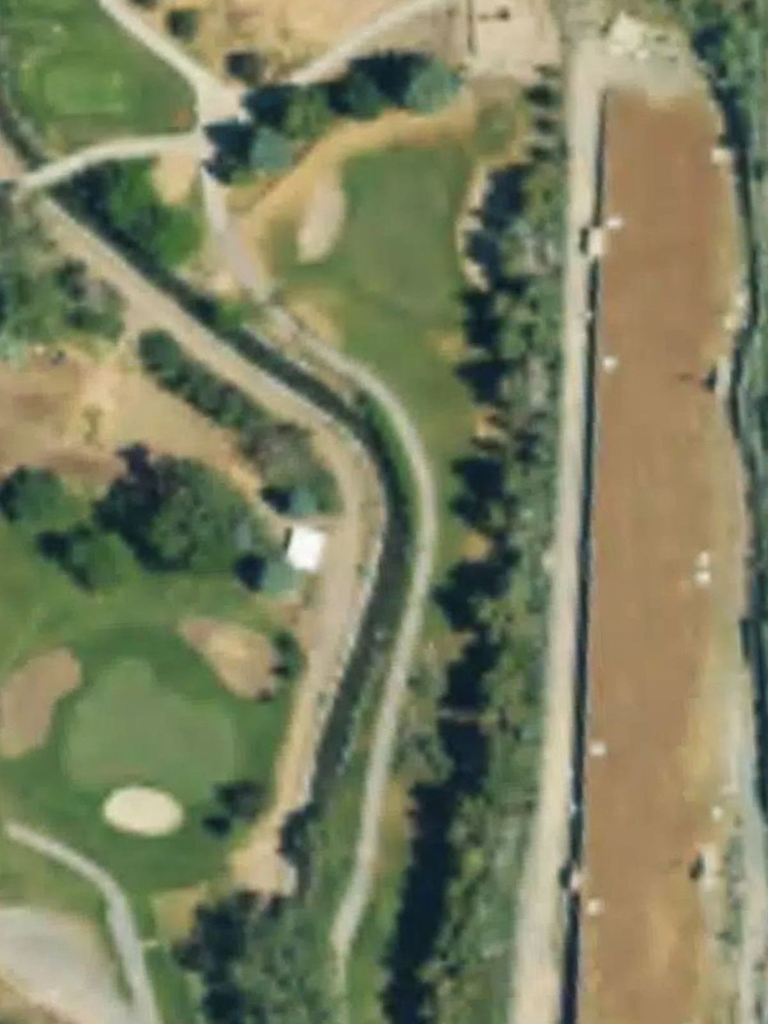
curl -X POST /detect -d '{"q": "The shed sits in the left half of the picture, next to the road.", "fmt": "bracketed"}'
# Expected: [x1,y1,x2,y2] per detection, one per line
[287,526,326,569]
